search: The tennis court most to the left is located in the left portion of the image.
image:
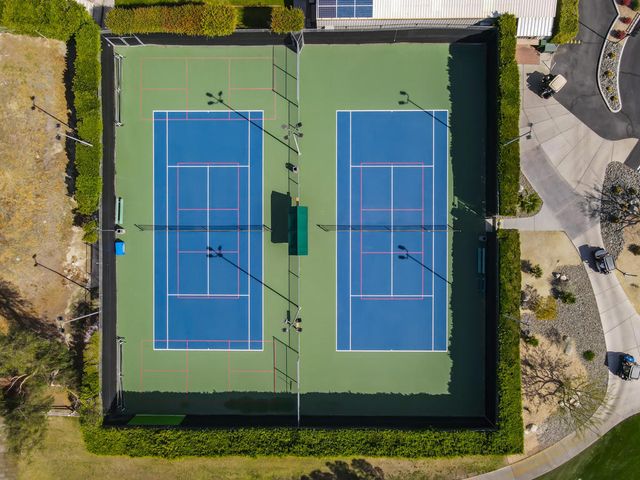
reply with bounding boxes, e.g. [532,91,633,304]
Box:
[115,45,298,416]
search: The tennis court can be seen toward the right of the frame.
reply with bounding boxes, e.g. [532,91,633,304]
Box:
[298,45,486,416]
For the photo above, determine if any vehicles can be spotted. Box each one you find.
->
[591,249,618,274]
[538,74,565,98]
[617,356,640,382]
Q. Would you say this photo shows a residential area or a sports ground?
sports ground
